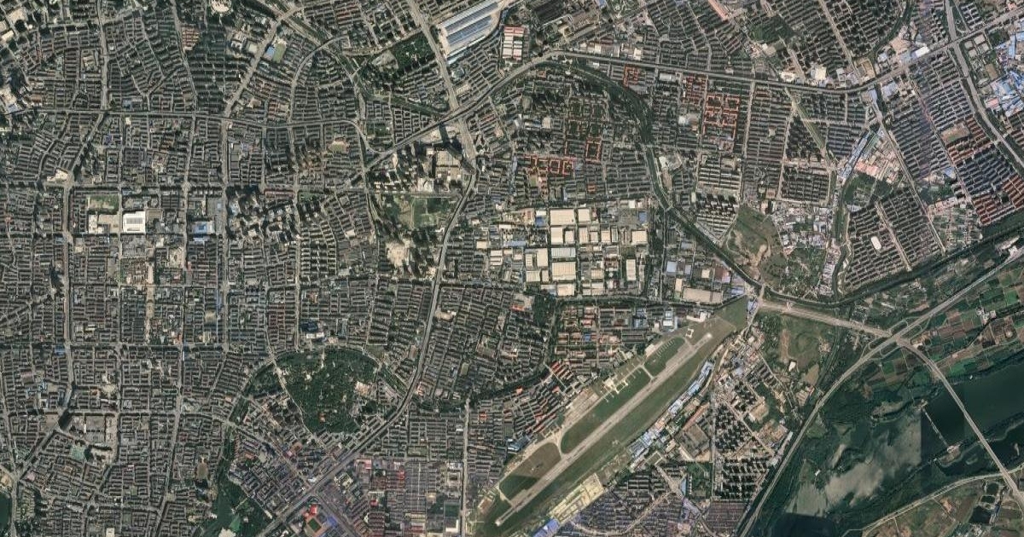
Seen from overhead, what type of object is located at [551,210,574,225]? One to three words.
building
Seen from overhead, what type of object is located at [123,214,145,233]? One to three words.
building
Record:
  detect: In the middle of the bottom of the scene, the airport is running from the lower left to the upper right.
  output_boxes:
[471,296,749,537]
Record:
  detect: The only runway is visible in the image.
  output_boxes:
[496,332,712,525]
